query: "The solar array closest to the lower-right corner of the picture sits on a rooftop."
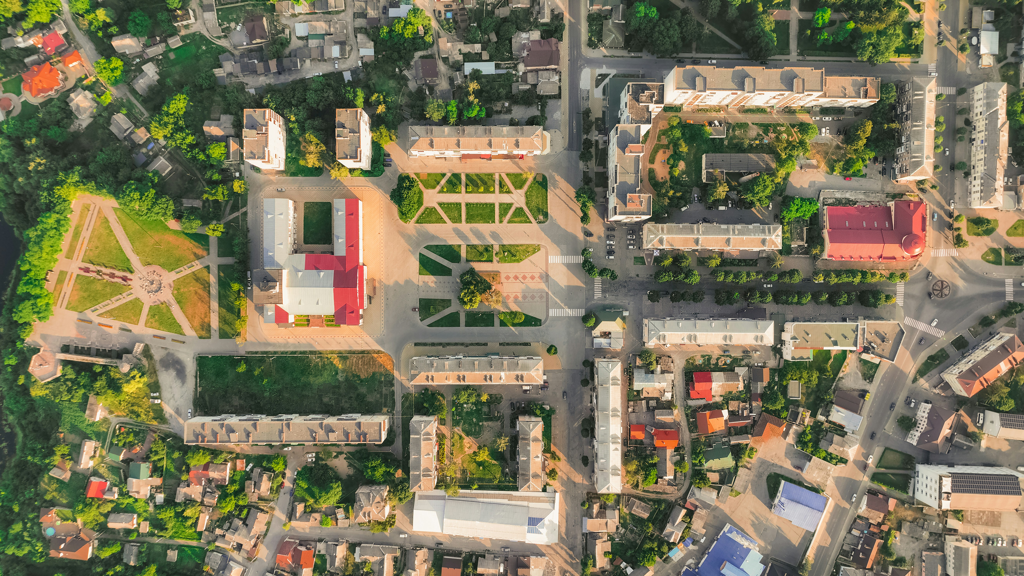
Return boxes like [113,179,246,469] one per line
[950,474,1020,495]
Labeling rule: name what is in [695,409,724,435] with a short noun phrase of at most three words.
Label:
house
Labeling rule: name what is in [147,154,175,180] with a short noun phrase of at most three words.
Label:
shed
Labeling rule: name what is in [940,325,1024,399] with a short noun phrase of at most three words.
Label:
building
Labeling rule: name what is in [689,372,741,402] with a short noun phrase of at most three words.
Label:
house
